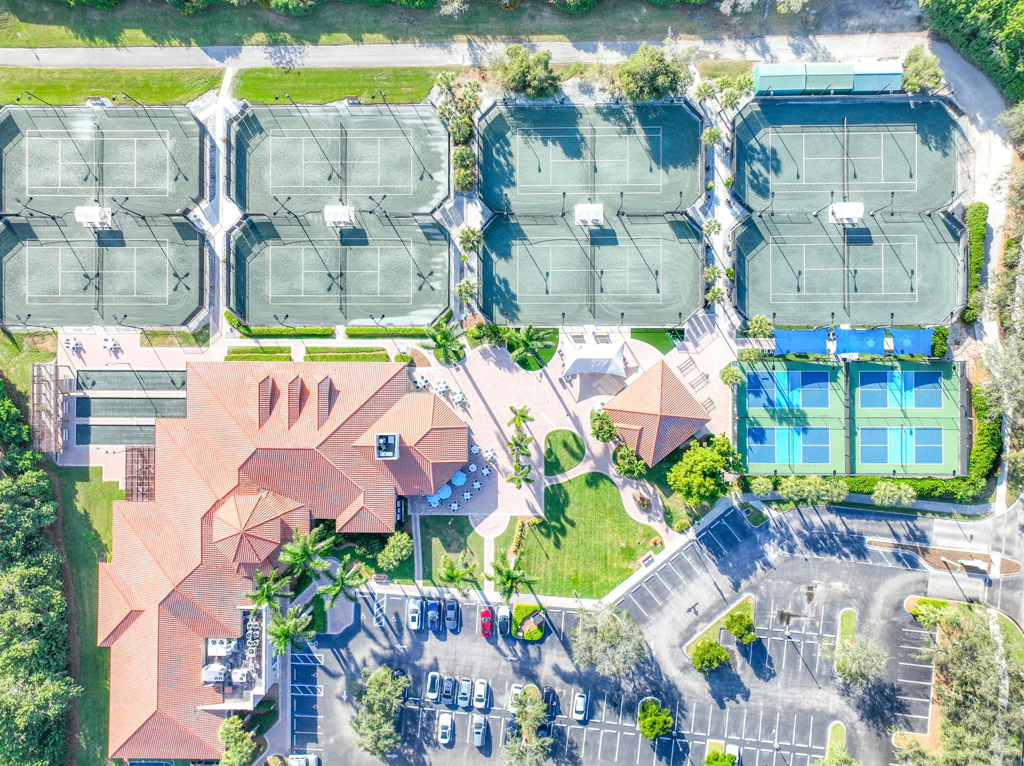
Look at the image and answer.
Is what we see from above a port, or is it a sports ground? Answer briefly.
sports ground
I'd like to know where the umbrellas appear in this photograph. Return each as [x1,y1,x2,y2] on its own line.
[438,483,453,499]
[428,493,443,507]
[452,470,468,486]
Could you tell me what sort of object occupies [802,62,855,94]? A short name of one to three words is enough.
shed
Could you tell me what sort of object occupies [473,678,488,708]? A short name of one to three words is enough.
car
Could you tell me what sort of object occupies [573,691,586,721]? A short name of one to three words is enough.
vehicle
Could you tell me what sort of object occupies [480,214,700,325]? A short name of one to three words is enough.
tennis court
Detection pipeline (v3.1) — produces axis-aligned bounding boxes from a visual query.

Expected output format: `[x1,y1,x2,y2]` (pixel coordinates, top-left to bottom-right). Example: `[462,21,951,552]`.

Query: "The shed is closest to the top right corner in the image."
[848,62,904,94]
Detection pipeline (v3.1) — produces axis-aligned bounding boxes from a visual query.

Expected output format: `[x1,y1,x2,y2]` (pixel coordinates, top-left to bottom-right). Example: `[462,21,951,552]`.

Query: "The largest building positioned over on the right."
[603,359,711,469]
